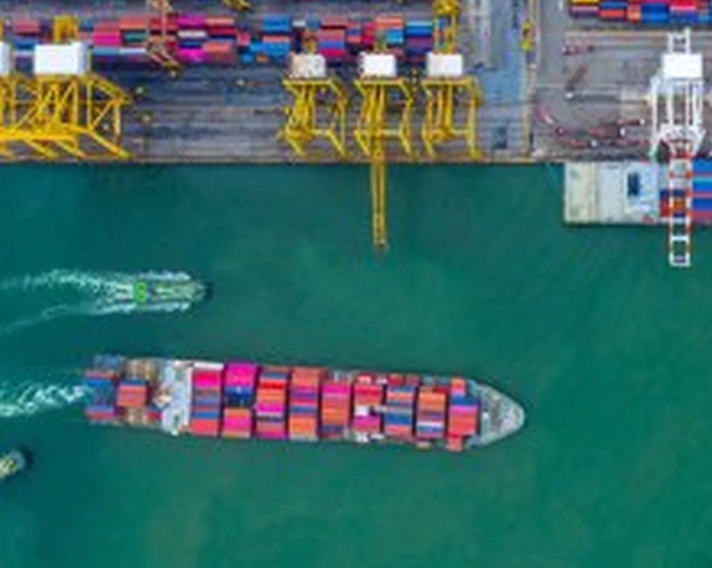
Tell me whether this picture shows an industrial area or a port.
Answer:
port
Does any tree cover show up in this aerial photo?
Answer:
No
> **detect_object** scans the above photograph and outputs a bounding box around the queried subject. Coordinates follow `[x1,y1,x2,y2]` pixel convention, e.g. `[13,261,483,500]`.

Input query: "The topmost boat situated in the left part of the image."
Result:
[128,279,209,303]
